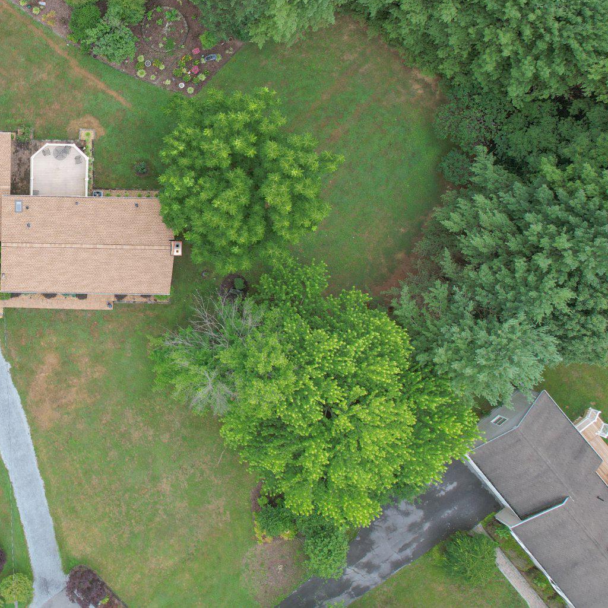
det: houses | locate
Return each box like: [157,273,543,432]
[462,390,608,608]
[0,131,184,296]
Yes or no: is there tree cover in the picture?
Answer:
Yes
